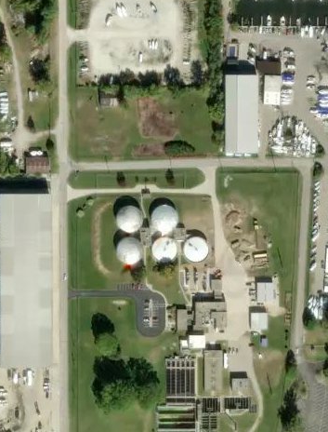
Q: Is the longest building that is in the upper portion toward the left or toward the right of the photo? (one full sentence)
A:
The longest building that is in the upper portion sits on the right side.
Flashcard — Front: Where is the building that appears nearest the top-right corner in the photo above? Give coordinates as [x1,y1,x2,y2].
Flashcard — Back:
[257,59,280,74]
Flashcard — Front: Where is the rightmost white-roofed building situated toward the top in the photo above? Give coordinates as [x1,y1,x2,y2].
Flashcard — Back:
[265,75,280,104]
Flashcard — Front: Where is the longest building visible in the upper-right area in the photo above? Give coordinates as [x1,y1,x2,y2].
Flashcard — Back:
[226,74,259,155]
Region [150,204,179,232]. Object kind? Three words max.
storage tank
